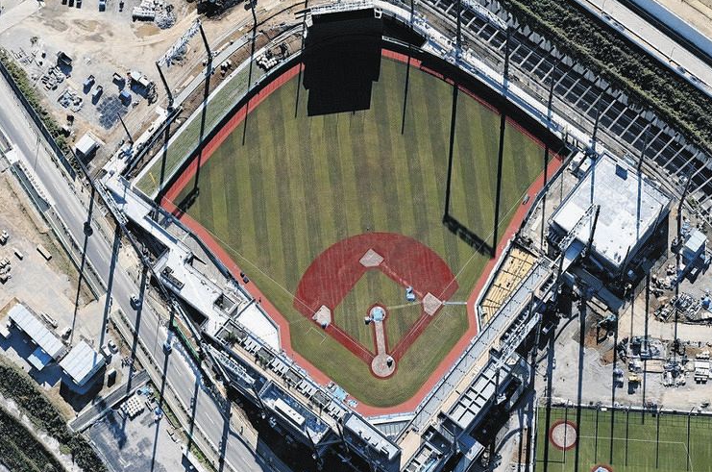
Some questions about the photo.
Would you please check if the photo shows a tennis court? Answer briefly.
No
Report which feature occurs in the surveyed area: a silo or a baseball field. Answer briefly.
baseball field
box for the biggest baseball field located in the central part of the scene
[160,38,564,416]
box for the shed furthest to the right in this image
[684,228,707,255]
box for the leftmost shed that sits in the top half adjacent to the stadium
[74,132,103,163]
